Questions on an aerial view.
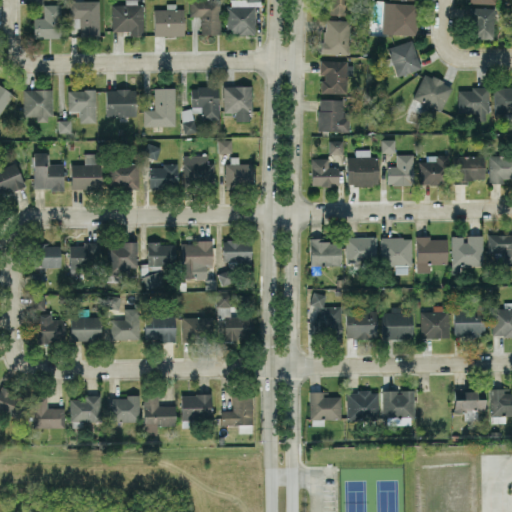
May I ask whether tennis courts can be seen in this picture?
Yes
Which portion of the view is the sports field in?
bottom right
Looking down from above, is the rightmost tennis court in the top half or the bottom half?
bottom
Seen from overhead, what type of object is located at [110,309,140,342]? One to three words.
house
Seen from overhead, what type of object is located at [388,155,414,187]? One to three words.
house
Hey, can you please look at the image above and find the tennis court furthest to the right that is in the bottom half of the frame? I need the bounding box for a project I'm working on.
[372,468,404,512]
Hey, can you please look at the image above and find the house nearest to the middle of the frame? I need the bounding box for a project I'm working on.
[224,243,252,264]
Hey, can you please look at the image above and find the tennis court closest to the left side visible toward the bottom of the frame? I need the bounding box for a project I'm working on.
[340,468,372,512]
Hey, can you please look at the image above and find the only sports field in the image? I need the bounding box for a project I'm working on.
[416,451,477,512]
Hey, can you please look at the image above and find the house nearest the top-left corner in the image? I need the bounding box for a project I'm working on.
[34,4,60,38]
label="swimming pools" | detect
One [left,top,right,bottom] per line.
[370,2,384,36]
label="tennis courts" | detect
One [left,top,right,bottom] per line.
[340,468,372,512]
[372,468,404,512]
